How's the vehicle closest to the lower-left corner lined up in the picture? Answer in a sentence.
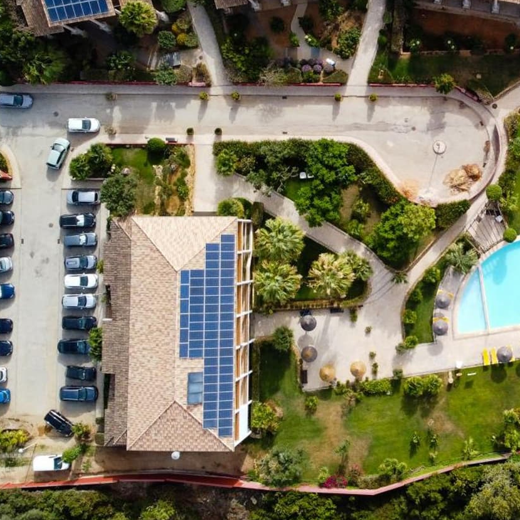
Seen from above, the vehicle closest to the lower-left corner lies from left to right.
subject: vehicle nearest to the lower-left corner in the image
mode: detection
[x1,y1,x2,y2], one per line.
[27,453,71,474]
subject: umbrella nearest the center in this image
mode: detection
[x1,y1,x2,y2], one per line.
[300,313,318,331]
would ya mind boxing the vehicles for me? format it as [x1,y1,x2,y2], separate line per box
[54,338,94,356]
[61,231,101,249]
[59,314,100,333]
[0,255,18,274]
[62,253,99,272]
[0,366,8,382]
[0,339,13,356]
[59,384,99,404]
[0,387,13,404]
[64,115,104,134]
[0,282,19,300]
[45,136,72,172]
[39,406,78,439]
[0,316,13,333]
[59,292,99,311]
[64,188,102,207]
[61,273,102,292]
[27,453,71,474]
[0,232,19,249]
[0,188,19,207]
[58,212,98,231]
[64,365,100,384]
